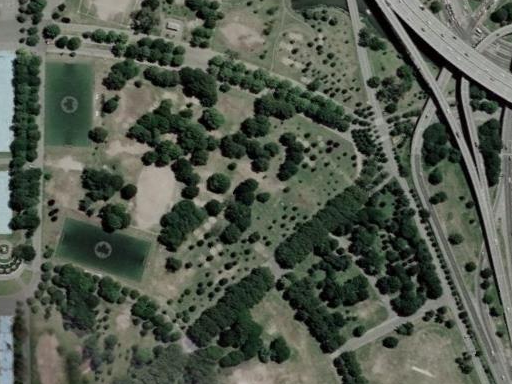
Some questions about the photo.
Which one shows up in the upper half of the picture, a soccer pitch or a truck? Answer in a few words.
soccer pitch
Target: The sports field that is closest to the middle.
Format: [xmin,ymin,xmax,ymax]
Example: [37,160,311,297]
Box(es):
[134,167,177,229]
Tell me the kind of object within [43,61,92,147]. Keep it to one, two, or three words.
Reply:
soccer field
